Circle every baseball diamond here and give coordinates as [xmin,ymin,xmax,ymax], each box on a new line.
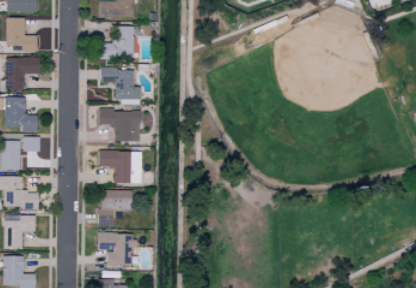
[200,10,414,192]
